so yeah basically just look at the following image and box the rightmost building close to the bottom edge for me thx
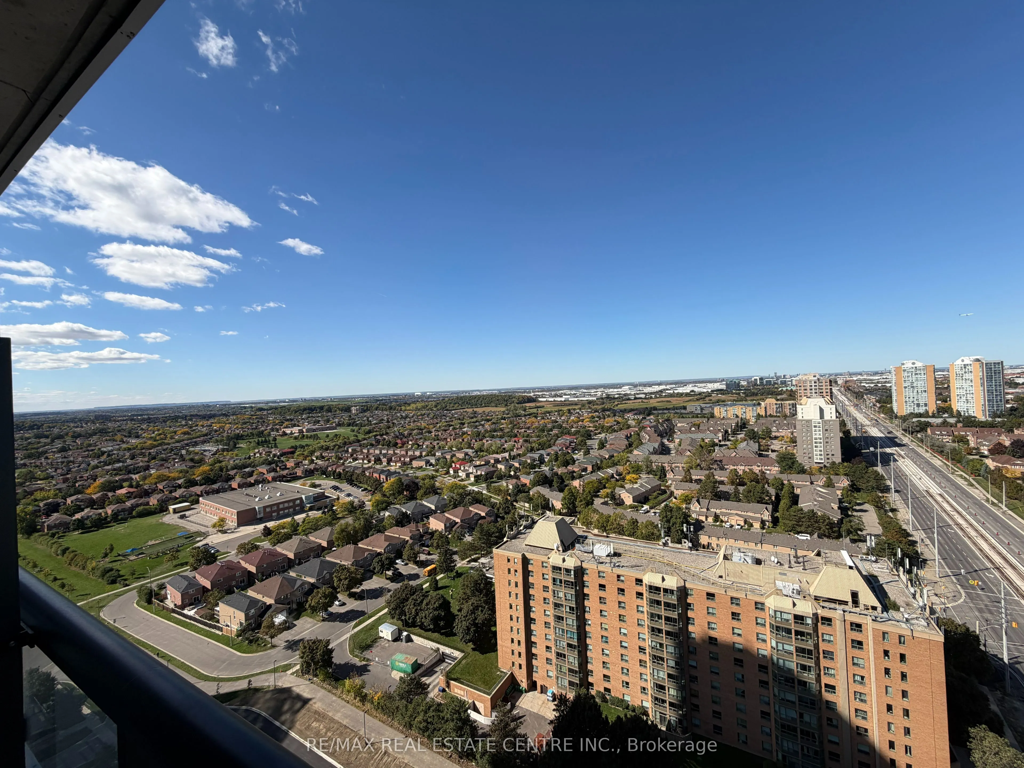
[490,502,952,768]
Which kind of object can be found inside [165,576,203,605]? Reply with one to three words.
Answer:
house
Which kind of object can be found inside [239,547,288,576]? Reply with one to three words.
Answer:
house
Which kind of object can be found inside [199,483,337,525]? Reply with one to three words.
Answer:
building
